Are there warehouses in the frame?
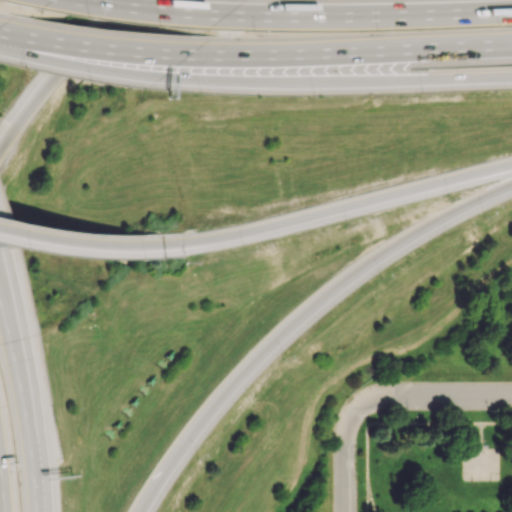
No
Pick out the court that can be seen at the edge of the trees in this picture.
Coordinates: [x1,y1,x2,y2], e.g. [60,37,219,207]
[463,446,500,481]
